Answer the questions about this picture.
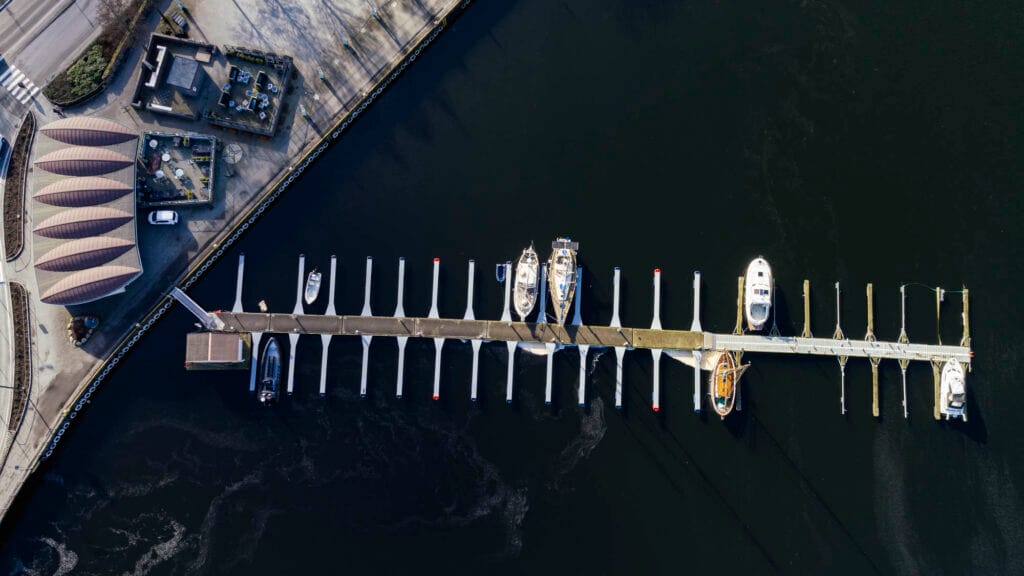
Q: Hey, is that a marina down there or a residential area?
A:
marina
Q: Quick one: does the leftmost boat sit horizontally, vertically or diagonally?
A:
vertically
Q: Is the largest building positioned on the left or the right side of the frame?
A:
left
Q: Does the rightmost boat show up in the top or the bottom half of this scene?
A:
bottom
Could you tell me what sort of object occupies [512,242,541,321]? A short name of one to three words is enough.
boat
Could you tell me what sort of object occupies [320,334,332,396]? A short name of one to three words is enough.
pier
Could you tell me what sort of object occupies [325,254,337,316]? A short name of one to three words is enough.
pier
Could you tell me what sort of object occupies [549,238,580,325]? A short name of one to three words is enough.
boat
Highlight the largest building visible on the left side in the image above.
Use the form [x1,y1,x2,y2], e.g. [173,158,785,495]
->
[32,117,151,307]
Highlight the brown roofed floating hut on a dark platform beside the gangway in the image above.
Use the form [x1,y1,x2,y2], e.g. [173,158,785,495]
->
[186,332,252,370]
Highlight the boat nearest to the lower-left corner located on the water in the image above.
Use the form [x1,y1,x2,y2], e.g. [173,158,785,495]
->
[258,336,282,405]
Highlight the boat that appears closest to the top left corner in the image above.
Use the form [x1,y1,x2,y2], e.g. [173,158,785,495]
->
[305,269,321,304]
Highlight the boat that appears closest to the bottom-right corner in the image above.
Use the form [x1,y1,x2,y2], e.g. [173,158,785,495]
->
[940,357,977,421]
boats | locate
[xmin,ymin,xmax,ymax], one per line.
[258,336,282,405]
[305,269,321,304]
[512,242,541,321]
[741,255,772,335]
[709,347,752,420]
[549,238,580,325]
[940,357,977,421]
[496,263,505,282]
